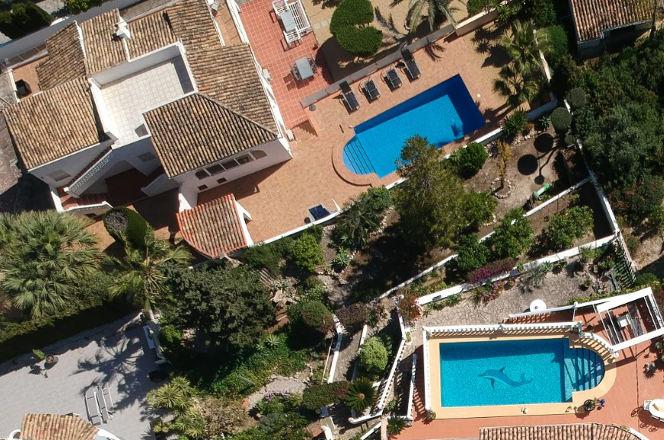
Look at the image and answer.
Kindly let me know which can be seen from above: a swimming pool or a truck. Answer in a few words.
swimming pool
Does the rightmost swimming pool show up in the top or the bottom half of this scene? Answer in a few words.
bottom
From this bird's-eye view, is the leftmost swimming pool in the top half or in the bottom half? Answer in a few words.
top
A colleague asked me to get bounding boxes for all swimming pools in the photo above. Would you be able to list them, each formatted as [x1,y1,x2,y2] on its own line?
[329,65,495,192]
[430,325,617,418]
